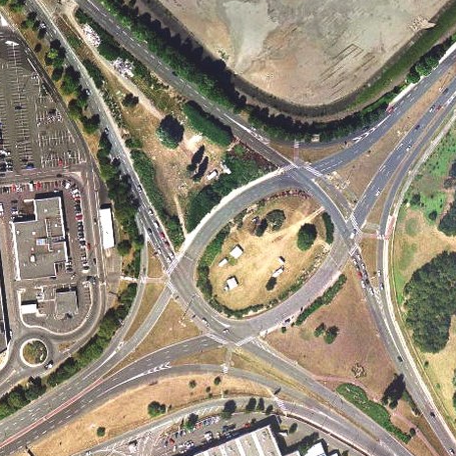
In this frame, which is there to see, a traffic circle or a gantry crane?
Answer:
traffic circle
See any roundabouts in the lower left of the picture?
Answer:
Yes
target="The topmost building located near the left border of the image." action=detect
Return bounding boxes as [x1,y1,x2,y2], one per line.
[11,195,69,281]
